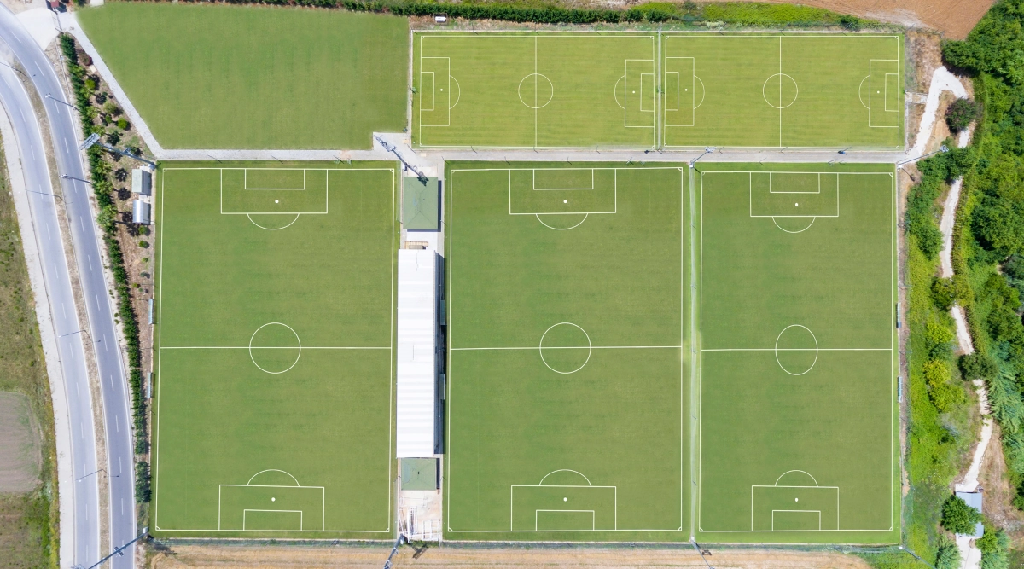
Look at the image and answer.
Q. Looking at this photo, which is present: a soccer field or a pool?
soccer field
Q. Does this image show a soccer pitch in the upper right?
Yes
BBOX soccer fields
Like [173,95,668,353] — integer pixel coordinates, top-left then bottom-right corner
[443,162,693,543]
[413,32,658,148]
[149,161,401,540]
[693,163,902,544]
[661,32,905,150]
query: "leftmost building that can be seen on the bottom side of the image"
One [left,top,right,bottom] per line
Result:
[401,456,436,490]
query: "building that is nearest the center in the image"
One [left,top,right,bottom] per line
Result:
[404,176,438,230]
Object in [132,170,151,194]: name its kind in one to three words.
shed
